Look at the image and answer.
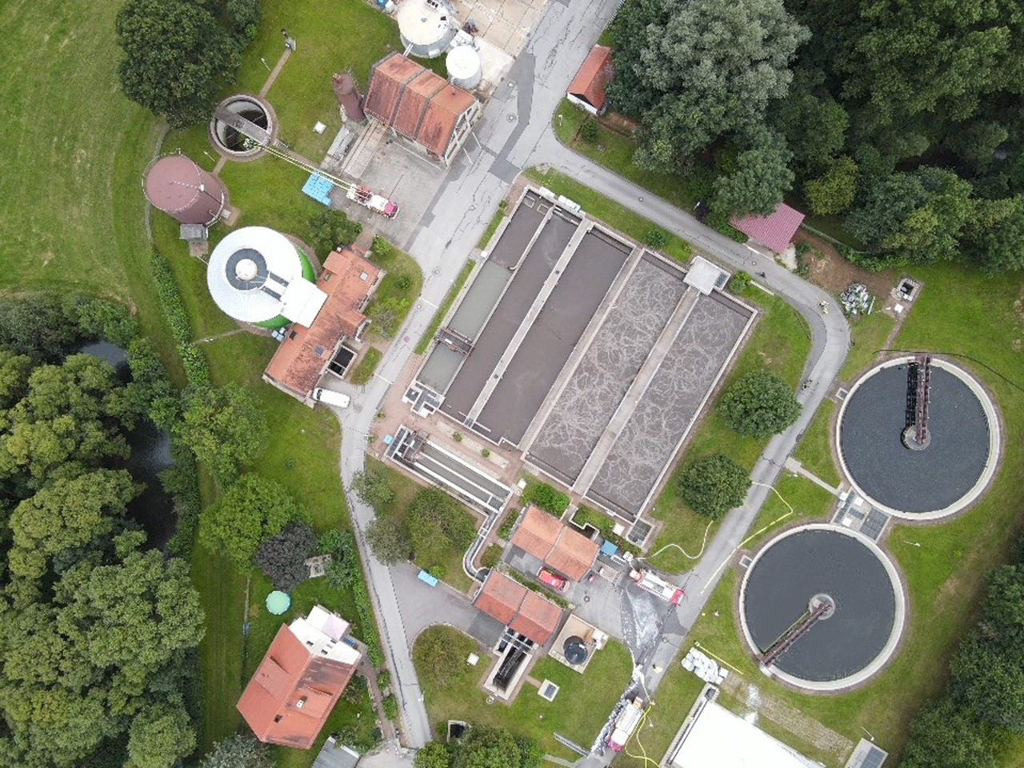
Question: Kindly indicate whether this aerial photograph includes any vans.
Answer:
Yes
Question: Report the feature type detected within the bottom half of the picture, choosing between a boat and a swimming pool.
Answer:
swimming pool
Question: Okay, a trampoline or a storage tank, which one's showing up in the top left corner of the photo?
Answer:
storage tank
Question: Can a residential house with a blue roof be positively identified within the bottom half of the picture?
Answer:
No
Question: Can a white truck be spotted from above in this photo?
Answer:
Yes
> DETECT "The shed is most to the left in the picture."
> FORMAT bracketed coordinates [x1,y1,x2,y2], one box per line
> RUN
[179,223,212,242]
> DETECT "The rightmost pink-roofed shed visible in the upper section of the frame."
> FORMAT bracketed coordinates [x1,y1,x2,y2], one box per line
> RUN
[729,201,805,254]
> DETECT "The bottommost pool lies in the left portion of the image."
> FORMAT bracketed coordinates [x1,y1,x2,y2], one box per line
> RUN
[265,590,291,616]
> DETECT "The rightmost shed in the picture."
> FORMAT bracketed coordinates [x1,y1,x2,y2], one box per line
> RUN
[839,733,889,768]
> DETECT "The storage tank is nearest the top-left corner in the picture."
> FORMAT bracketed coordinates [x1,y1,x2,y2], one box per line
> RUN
[140,153,228,223]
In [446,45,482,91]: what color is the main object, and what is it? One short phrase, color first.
white storage tank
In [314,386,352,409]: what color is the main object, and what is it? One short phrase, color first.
white vehicle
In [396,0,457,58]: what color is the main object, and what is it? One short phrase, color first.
white storage tank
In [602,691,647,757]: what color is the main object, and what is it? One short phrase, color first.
white truck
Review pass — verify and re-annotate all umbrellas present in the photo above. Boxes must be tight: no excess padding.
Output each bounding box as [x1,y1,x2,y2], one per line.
[324,613,348,640]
